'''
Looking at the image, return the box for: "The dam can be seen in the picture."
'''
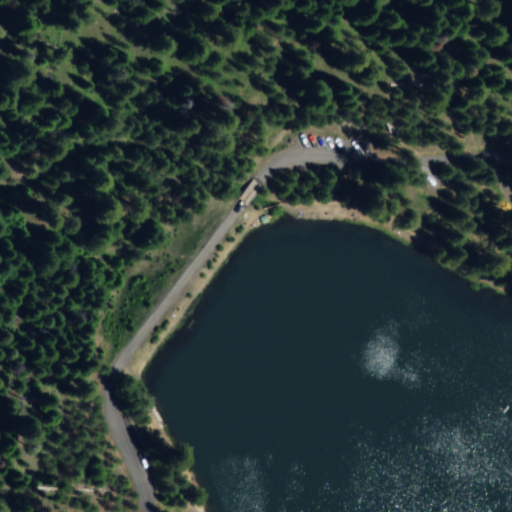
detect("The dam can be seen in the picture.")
[104,200,256,385]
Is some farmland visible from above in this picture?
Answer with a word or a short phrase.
No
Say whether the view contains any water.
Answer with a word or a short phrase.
Yes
